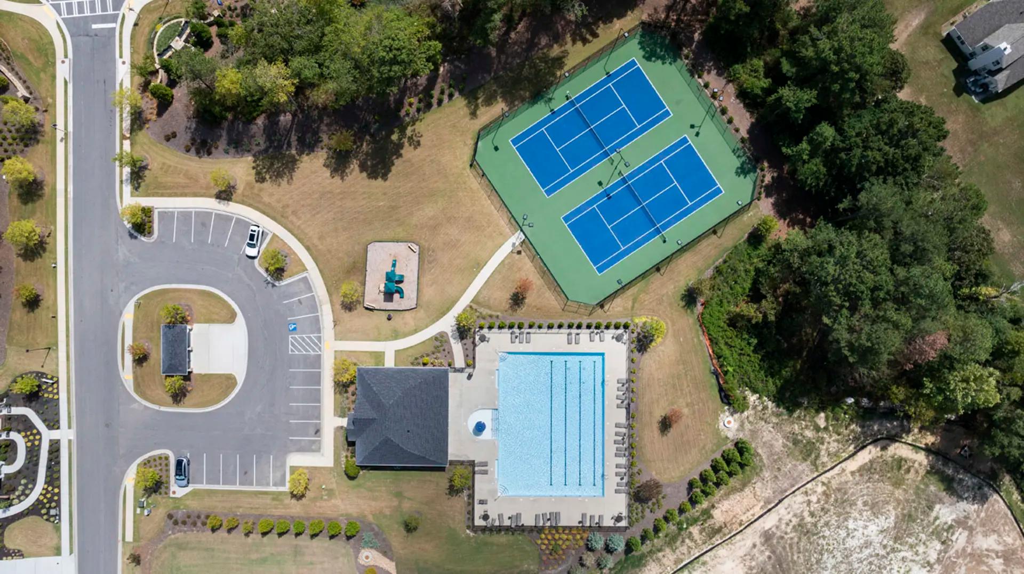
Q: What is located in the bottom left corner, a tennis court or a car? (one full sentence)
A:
Visible in the bottom left corner is a car.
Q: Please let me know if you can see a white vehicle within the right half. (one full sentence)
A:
No, I see no white vehicle within the right half.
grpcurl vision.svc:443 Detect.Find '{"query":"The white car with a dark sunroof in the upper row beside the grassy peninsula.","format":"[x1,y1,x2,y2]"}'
[245,226,262,257]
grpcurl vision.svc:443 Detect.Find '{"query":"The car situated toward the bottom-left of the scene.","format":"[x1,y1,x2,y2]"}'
[175,456,191,487]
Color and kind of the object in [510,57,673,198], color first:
blue tennis court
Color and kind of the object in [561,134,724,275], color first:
blue tennis court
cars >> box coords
[245,226,262,257]
[175,456,191,487]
